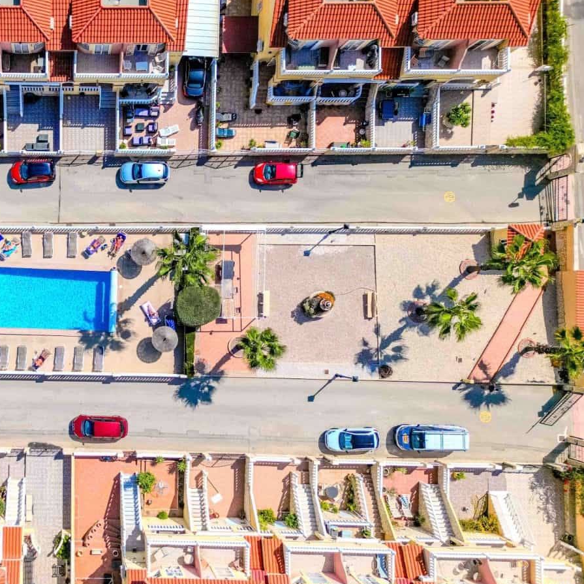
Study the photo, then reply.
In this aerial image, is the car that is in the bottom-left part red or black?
red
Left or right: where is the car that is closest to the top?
left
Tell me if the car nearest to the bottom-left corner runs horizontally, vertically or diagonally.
horizontally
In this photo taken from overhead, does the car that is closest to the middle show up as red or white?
red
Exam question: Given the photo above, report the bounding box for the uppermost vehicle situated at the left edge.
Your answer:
[9,158,56,184]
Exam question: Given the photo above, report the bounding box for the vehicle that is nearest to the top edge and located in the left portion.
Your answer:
[179,56,208,111]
